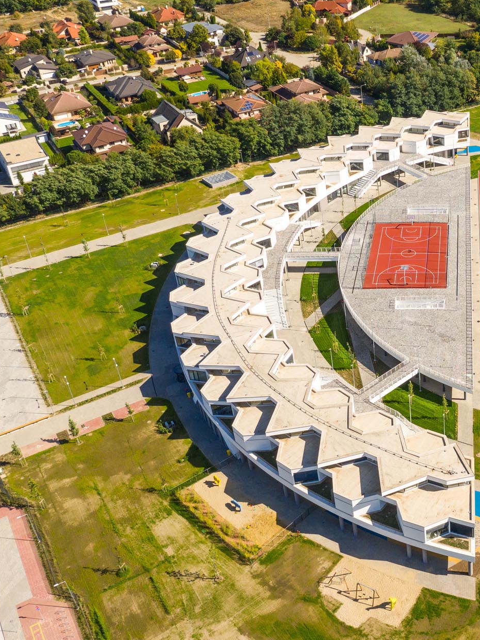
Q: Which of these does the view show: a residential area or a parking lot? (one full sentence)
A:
This looks like a residential area.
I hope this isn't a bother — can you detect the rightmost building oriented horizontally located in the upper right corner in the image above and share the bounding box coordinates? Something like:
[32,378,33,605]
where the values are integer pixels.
[385,21,439,49]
